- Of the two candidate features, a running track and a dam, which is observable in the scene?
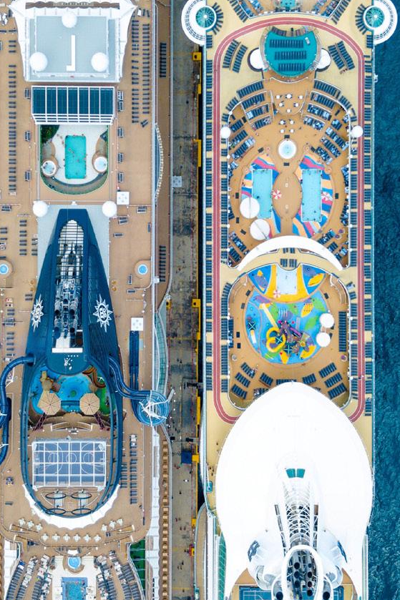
running track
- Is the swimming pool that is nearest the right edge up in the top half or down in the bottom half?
top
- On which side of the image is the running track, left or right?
right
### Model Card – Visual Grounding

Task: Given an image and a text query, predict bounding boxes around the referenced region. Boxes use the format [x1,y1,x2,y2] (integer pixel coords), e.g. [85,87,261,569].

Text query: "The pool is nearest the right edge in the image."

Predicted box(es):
[293,155,334,237]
